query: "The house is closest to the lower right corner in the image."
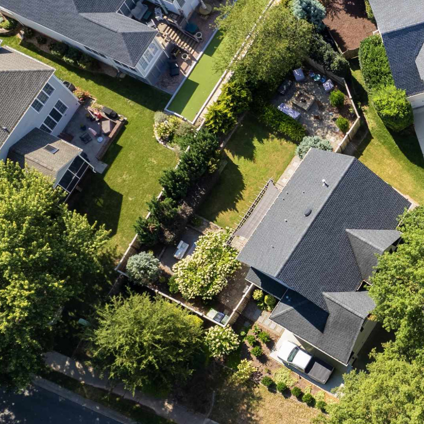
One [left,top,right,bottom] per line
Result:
[236,148,413,372]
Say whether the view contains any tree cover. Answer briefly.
Yes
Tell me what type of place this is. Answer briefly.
residential area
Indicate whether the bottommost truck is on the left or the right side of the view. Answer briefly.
right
